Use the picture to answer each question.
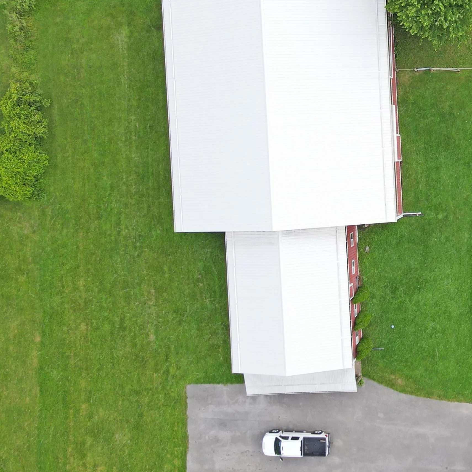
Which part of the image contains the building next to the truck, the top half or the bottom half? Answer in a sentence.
You can find the building next to the truck in the bottom half.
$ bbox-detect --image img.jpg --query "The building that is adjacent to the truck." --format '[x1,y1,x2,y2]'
[223,226,372,397]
